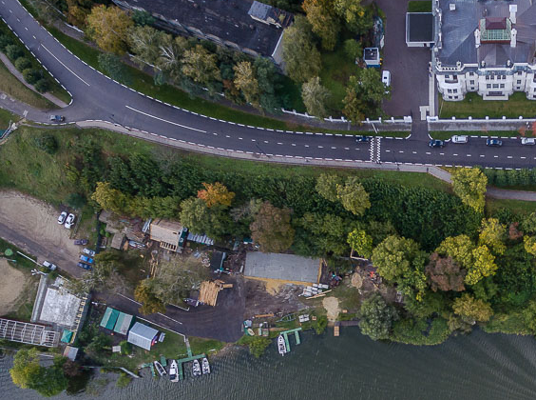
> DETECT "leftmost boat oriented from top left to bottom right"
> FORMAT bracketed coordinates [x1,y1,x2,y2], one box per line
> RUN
[153,360,168,376]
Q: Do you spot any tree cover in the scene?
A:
Yes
